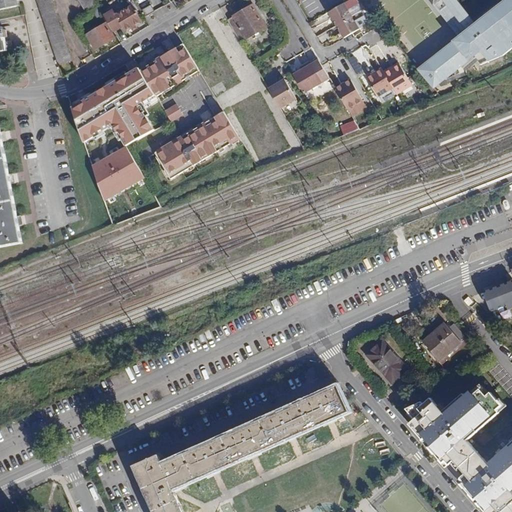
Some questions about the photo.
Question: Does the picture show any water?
No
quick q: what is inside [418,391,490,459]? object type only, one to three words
building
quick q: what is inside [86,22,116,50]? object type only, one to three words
house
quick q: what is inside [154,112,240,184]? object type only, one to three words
building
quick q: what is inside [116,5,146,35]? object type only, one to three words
house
